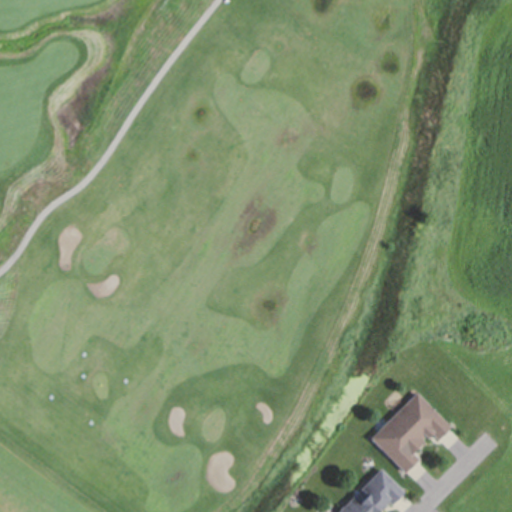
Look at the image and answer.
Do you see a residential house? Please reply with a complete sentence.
Yes, a residential house appears in the view.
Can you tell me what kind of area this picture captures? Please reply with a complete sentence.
The area seen from above is a golf course.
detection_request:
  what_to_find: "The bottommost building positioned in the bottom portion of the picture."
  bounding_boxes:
[342,470,406,512]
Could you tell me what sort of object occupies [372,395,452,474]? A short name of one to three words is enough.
house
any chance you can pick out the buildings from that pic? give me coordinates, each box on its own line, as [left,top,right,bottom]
[342,470,406,512]
[372,395,452,474]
